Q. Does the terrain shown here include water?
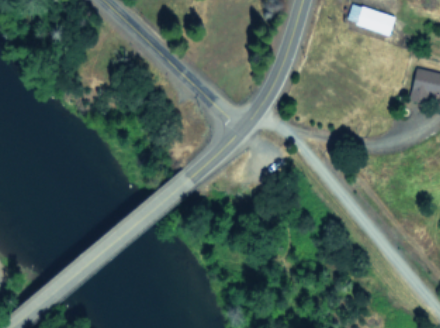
Yes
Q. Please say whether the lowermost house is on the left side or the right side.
right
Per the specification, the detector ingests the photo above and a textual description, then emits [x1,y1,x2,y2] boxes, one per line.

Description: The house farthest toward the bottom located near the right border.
[410,65,440,100]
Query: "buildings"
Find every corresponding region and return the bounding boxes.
[348,2,396,35]
[410,65,440,100]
